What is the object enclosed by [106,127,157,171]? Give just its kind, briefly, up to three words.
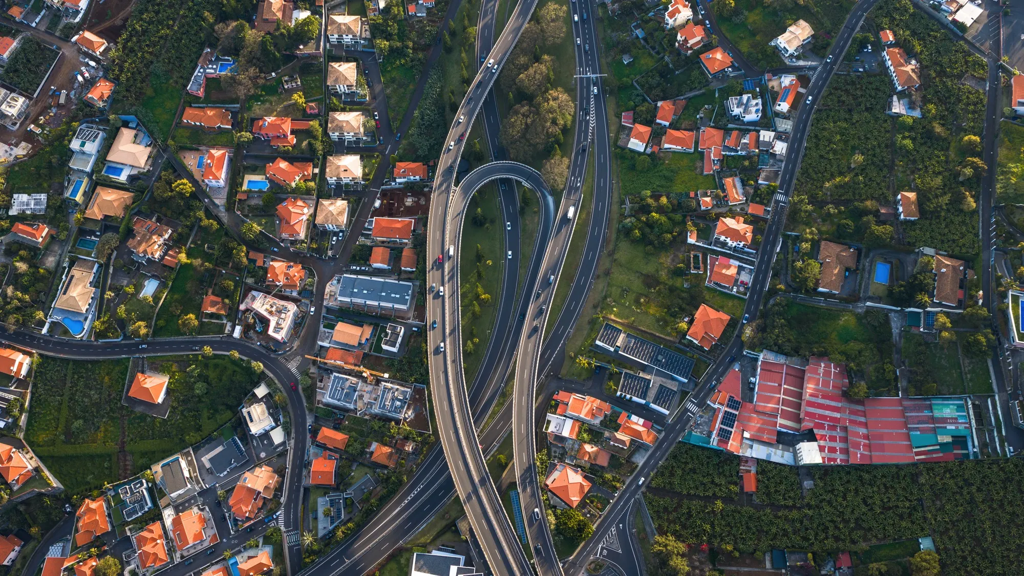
house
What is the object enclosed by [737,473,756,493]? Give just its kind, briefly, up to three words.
shed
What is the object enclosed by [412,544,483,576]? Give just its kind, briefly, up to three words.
building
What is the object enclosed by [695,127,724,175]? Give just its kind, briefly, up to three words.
house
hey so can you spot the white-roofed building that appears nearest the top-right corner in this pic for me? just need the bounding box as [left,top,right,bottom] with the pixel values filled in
[929,0,983,29]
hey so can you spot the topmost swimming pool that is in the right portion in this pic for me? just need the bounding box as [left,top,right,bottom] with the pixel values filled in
[874,261,892,285]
